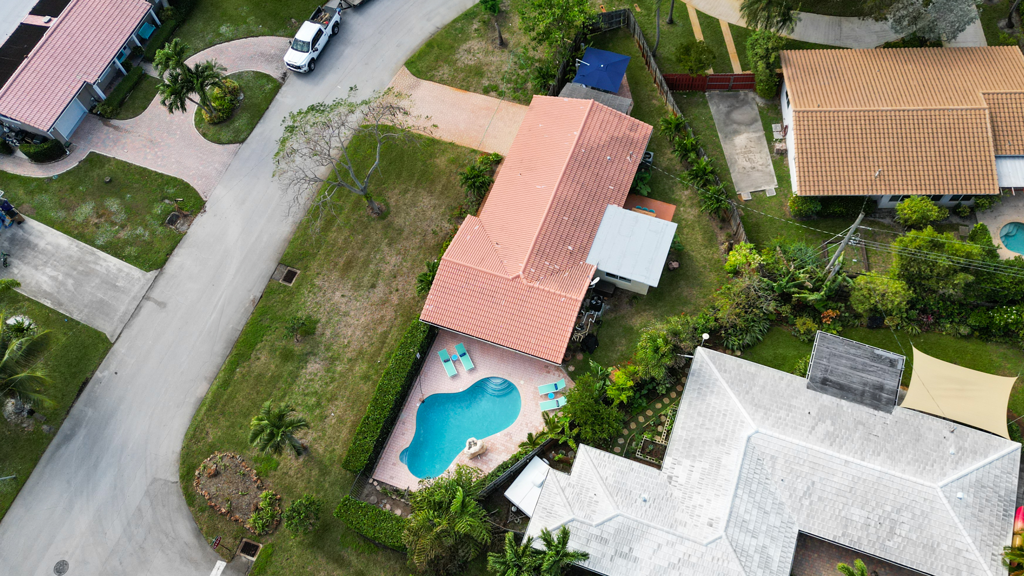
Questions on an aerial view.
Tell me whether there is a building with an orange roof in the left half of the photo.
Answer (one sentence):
No, in the left half of the photo there is no building with an orange roof.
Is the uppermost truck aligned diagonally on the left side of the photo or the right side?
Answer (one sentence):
The uppermost truck aligned diagonally appears in the left half of the scene.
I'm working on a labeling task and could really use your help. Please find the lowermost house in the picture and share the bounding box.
[519,331,1020,576]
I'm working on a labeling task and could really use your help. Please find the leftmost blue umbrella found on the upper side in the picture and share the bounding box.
[572,47,630,93]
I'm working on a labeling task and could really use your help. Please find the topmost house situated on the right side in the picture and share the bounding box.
[780,45,1024,207]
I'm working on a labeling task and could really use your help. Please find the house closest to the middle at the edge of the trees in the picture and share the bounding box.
[418,93,677,367]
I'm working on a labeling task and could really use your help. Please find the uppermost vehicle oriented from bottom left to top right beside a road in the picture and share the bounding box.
[281,6,342,78]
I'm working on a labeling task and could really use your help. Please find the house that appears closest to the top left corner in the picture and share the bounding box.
[0,0,161,142]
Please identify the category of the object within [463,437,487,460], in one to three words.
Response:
fountain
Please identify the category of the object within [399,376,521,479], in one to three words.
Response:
swimming pool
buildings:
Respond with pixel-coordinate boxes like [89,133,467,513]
[780,45,1024,207]
[0,0,161,142]
[519,331,1020,576]
[418,93,677,367]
